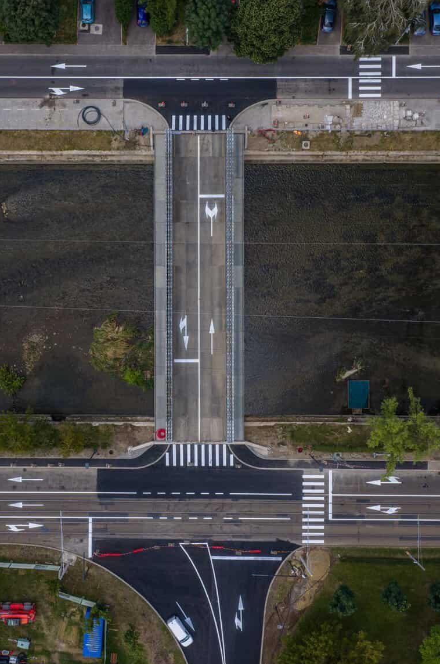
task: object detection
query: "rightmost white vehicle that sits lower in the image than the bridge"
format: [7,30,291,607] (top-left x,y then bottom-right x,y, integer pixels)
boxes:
[168,614,192,648]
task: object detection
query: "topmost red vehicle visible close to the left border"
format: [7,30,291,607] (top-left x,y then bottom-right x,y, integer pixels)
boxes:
[0,604,34,628]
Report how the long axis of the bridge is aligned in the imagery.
up and down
